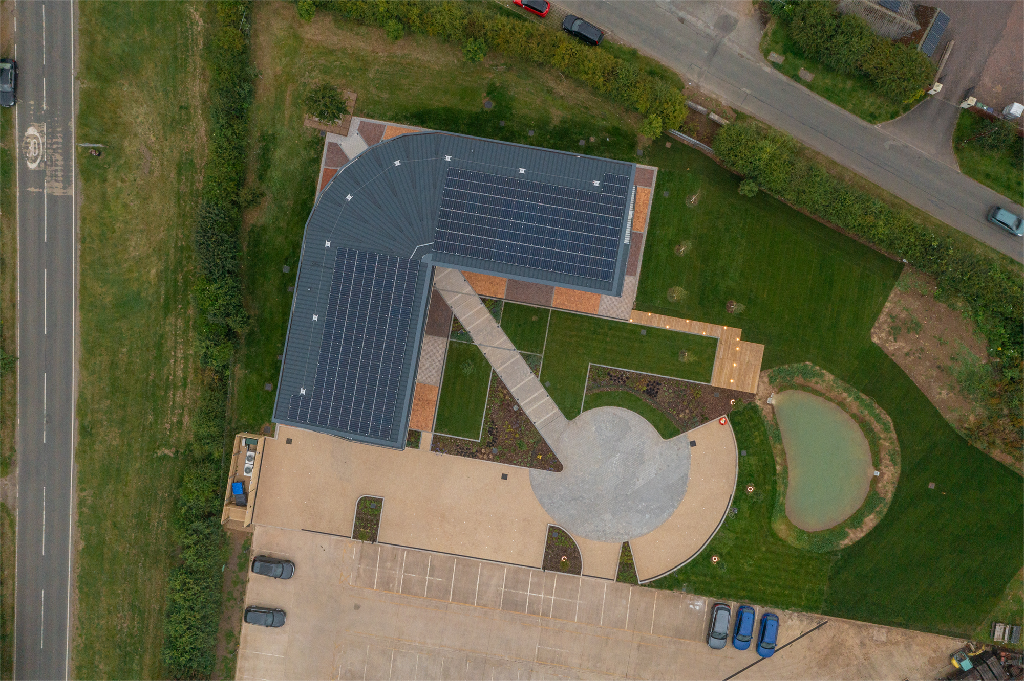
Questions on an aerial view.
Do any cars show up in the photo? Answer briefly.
Yes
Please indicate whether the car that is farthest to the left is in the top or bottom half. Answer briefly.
top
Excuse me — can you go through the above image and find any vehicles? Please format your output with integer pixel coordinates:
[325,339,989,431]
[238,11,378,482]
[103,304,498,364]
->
[945,633,983,675]
[250,554,297,581]
[754,611,779,657]
[706,601,732,649]
[730,604,755,650]
[982,205,1024,238]
[0,58,21,108]
[512,0,554,22]
[560,14,605,46]
[243,603,287,630]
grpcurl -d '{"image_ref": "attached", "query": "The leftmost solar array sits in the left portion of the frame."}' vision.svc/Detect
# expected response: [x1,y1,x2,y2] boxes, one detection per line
[287,247,419,435]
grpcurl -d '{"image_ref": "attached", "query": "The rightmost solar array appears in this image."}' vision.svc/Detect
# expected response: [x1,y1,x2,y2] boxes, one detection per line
[923,10,952,56]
